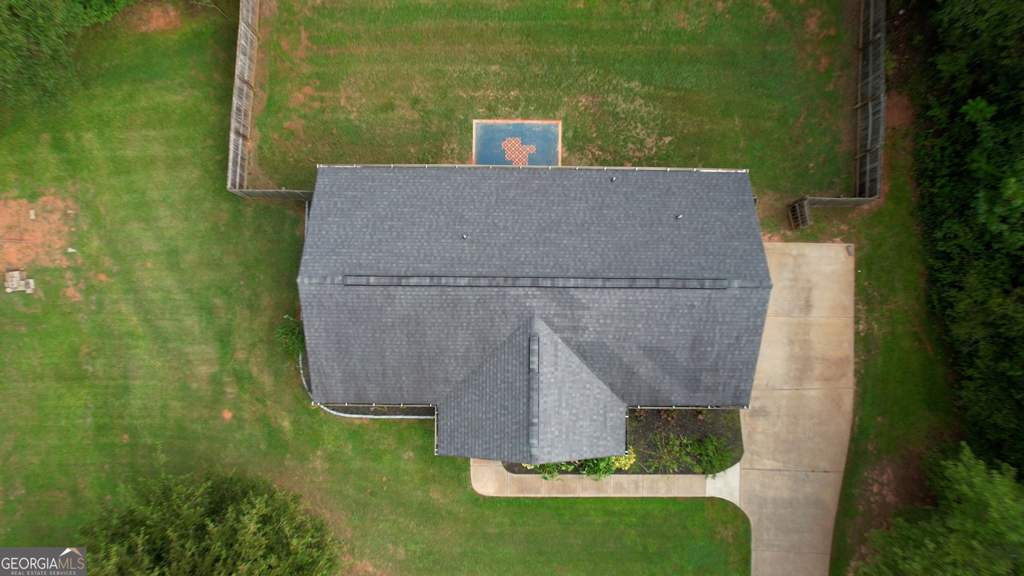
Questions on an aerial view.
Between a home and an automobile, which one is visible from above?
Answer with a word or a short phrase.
home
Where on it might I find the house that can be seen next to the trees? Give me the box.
[297,166,771,463]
